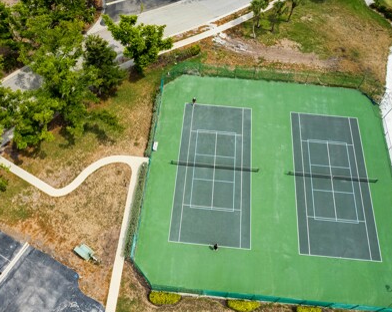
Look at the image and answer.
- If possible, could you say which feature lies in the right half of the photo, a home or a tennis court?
tennis court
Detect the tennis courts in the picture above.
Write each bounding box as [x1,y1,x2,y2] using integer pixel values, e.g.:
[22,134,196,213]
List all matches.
[288,112,382,262]
[169,103,258,249]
